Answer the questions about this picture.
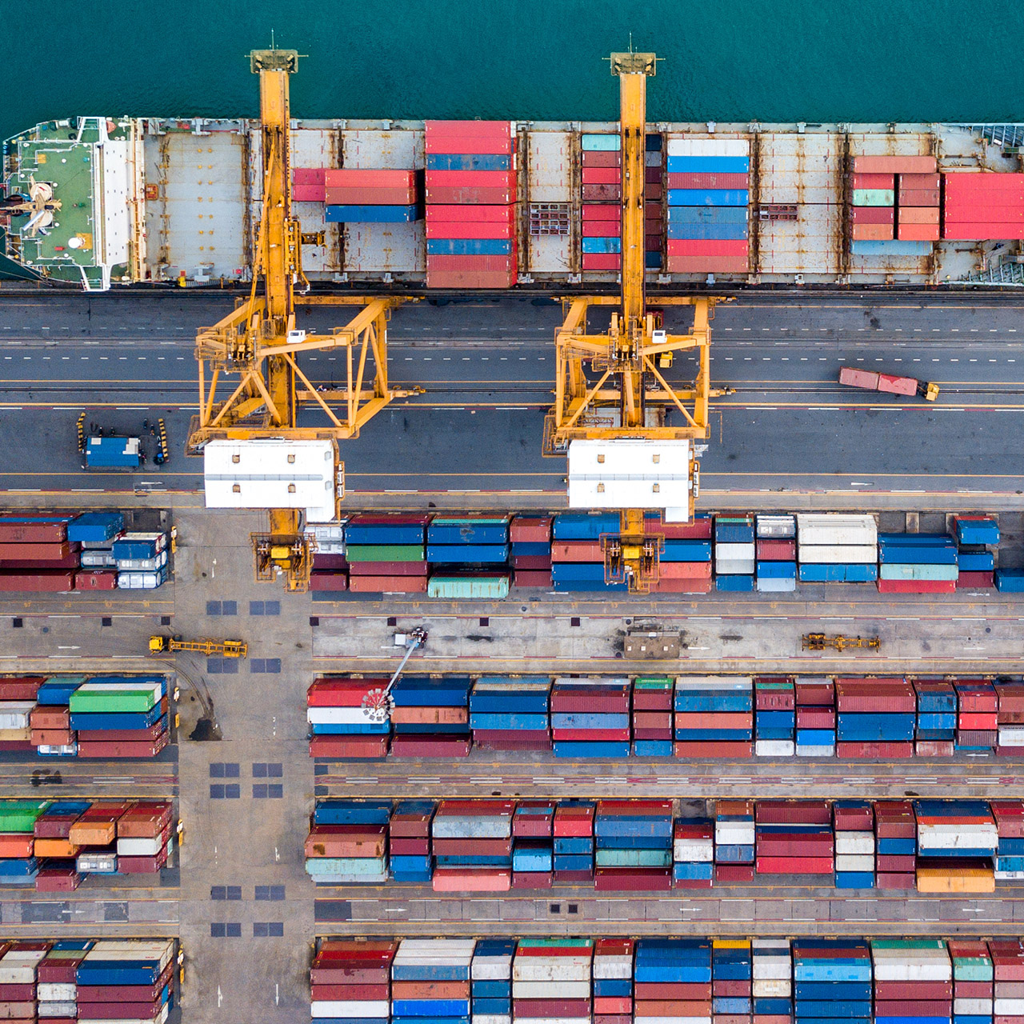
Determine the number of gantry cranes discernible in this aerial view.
2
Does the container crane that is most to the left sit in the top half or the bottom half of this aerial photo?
top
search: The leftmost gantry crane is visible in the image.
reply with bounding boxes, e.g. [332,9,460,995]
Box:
[191,33,419,596]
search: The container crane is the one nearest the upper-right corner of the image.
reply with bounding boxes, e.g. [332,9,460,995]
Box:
[543,43,735,596]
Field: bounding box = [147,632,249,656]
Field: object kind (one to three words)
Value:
truck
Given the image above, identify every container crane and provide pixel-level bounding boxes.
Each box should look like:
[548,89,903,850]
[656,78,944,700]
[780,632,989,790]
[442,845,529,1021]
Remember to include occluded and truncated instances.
[191,33,419,596]
[543,43,735,596]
